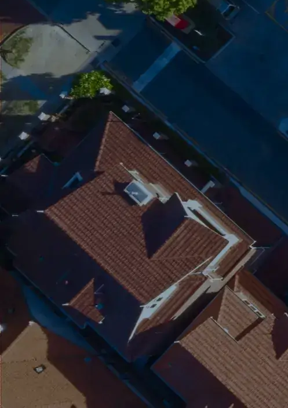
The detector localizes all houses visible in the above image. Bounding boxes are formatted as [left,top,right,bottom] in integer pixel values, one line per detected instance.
[0,111,258,361]
[0,282,161,408]
[152,271,288,408]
